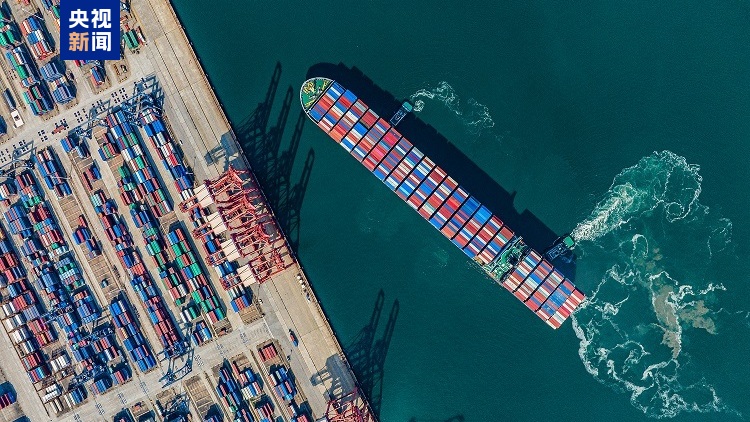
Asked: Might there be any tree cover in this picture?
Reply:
No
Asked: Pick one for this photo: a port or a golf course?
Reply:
port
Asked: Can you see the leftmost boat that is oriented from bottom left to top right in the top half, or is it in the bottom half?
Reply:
top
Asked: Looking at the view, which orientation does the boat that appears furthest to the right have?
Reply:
at an angle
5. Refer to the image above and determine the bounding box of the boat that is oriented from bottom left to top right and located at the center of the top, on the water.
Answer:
[391,100,412,127]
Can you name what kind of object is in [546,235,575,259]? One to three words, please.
boat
